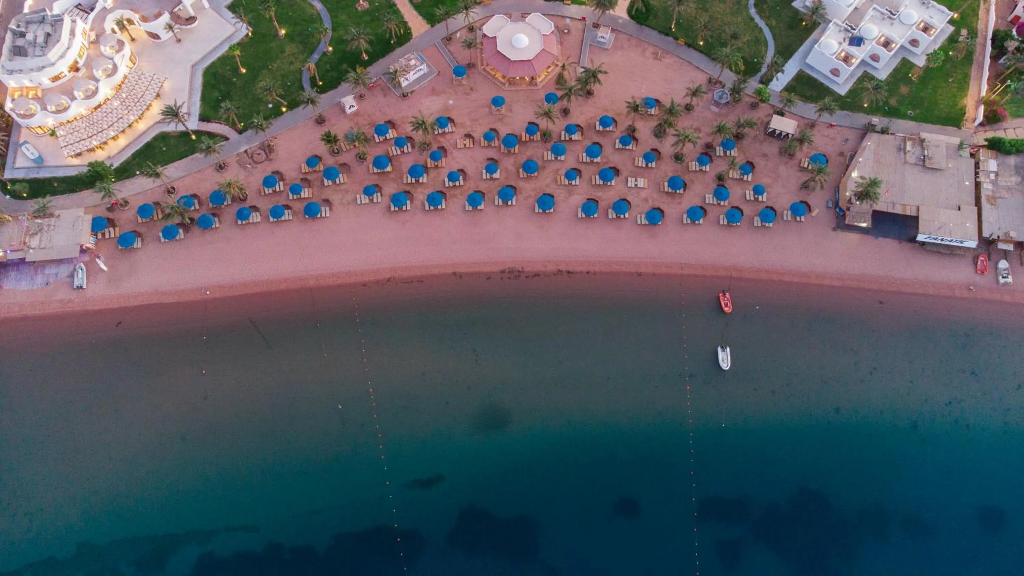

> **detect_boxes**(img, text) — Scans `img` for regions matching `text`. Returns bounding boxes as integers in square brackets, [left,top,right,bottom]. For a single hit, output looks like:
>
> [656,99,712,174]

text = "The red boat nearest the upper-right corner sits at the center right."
[976,253,989,275]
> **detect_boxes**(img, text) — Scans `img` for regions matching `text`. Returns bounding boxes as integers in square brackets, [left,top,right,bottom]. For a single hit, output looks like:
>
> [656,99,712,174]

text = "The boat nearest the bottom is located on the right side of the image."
[716,343,731,371]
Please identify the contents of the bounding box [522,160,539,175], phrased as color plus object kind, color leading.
blue umbrella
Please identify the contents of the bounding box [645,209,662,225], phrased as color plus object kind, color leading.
blue umbrella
